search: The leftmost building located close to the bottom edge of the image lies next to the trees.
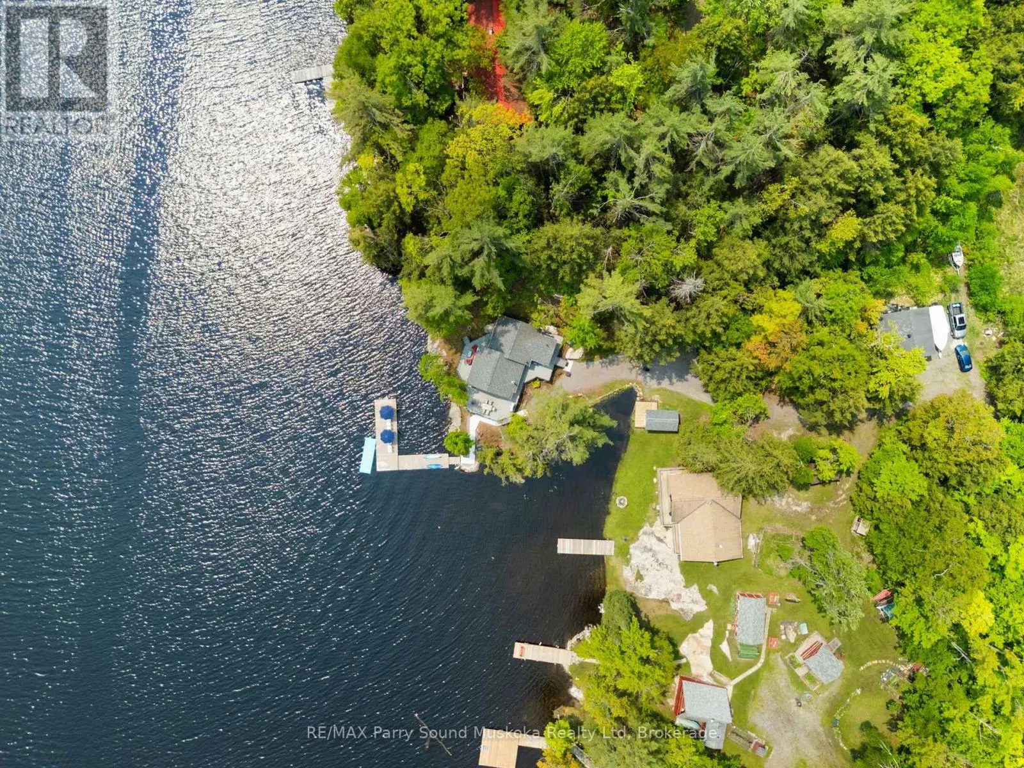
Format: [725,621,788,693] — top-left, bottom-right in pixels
[675,674,732,749]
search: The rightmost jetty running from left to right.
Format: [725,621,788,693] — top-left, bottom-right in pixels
[556,537,615,555]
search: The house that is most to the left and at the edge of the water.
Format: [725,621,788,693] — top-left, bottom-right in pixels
[458,317,572,421]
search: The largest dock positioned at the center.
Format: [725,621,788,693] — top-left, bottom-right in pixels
[373,399,461,471]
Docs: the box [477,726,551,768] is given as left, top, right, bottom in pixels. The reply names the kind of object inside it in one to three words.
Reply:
pier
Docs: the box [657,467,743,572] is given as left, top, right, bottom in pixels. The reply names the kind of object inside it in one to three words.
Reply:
house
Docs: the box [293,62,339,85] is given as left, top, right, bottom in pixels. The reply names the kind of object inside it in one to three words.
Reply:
pier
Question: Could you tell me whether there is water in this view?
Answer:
Yes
